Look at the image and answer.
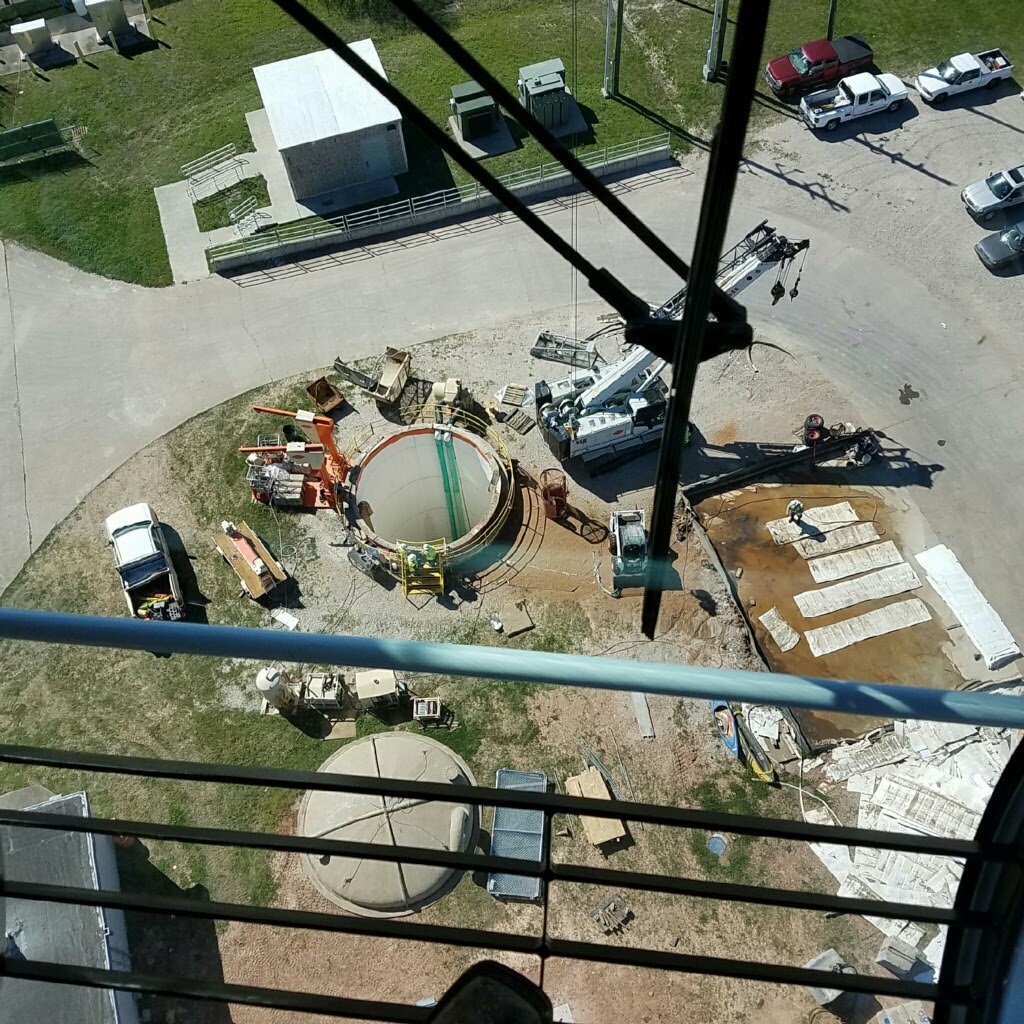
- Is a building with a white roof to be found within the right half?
No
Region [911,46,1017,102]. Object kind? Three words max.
truck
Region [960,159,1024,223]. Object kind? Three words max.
car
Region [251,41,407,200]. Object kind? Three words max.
building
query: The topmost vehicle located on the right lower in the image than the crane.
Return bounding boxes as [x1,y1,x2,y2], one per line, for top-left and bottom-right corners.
[608,507,652,593]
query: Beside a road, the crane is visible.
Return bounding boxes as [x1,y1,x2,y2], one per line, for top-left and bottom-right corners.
[530,222,806,477]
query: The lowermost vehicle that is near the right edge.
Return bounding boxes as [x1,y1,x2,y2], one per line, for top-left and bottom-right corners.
[976,221,1024,274]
